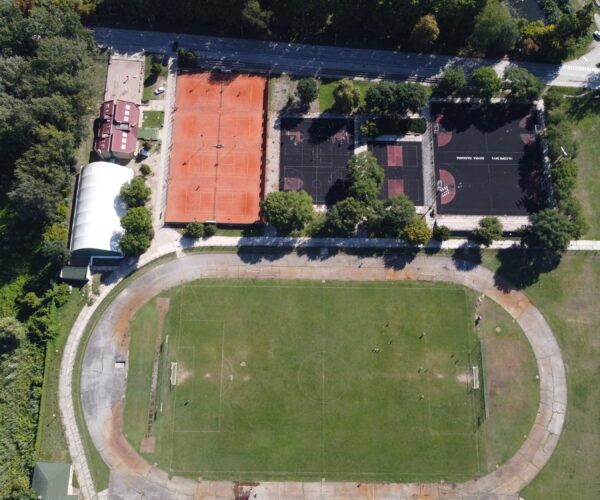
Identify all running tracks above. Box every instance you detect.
[81,252,567,500]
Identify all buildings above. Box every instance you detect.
[60,267,90,280]
[96,101,141,157]
[29,462,78,500]
[69,162,134,256]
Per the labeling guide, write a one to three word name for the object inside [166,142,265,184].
tennis court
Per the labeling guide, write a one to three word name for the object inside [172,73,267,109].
tennis court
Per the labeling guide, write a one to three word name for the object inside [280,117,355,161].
basketball court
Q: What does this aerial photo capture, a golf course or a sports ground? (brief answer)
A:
sports ground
